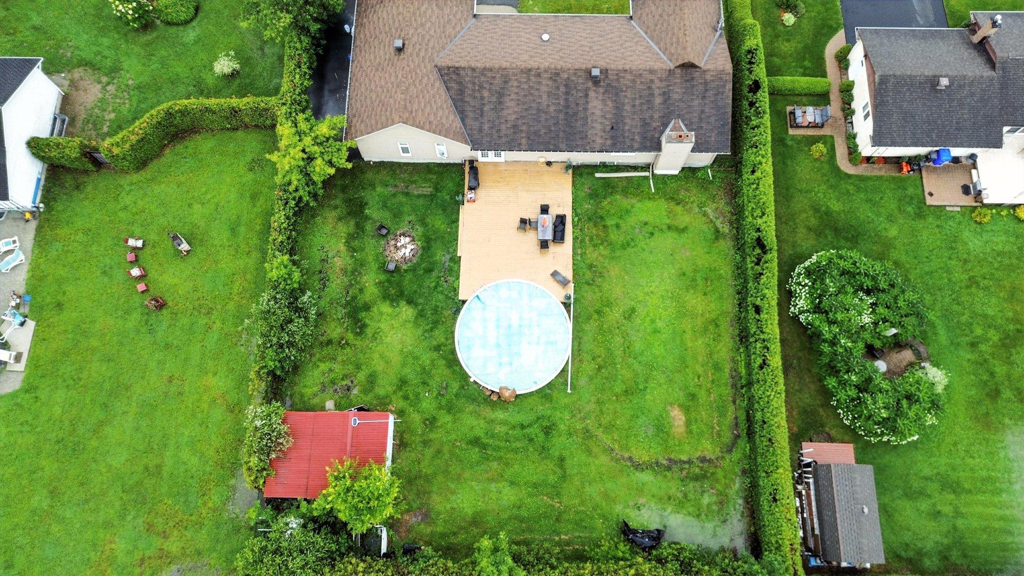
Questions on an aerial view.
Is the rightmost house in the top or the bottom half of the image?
top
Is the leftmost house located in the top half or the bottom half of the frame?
top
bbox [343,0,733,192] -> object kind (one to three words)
house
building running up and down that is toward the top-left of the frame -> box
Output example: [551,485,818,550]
[0,56,63,206]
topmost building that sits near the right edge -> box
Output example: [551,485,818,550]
[848,3,1024,156]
